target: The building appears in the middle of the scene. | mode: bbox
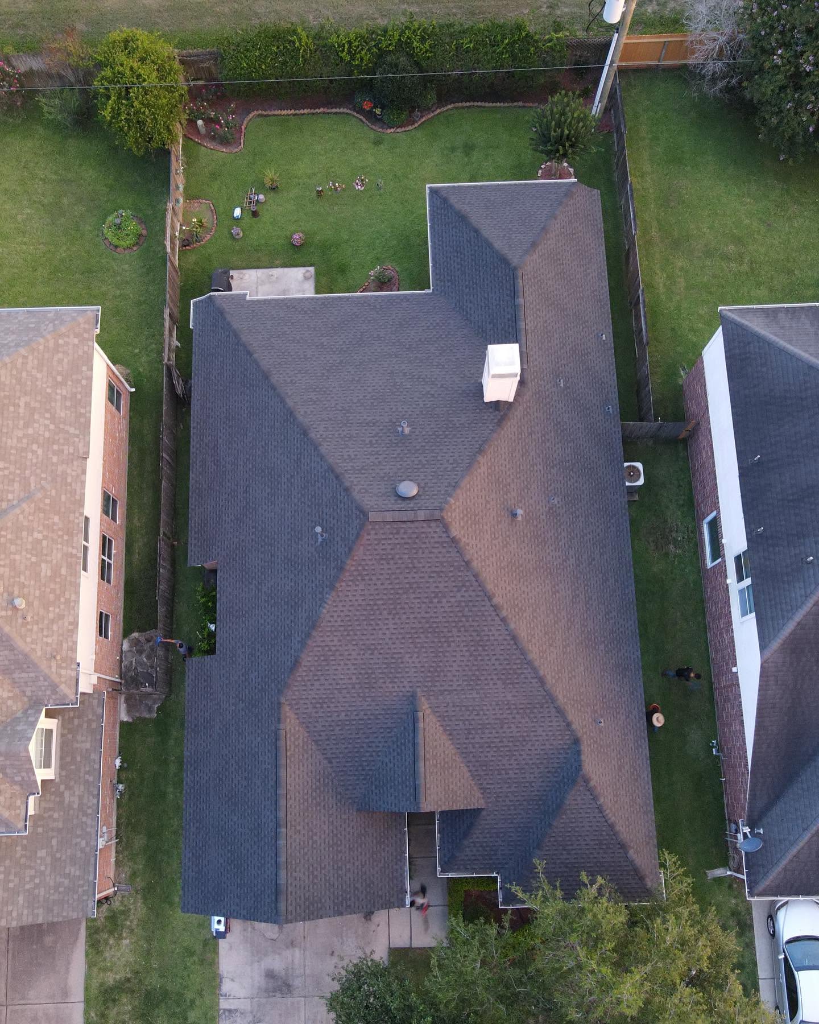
[182,179,667,920]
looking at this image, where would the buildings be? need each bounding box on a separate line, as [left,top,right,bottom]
[182,179,667,920]
[0,306,143,927]
[680,302,819,903]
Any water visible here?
No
